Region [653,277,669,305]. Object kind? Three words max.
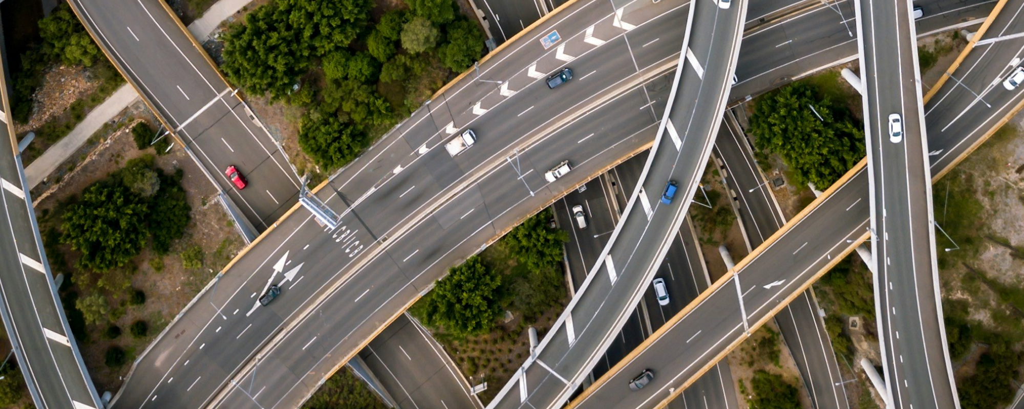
car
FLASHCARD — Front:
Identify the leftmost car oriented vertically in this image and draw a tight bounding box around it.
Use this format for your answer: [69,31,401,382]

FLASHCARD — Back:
[573,204,587,230]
